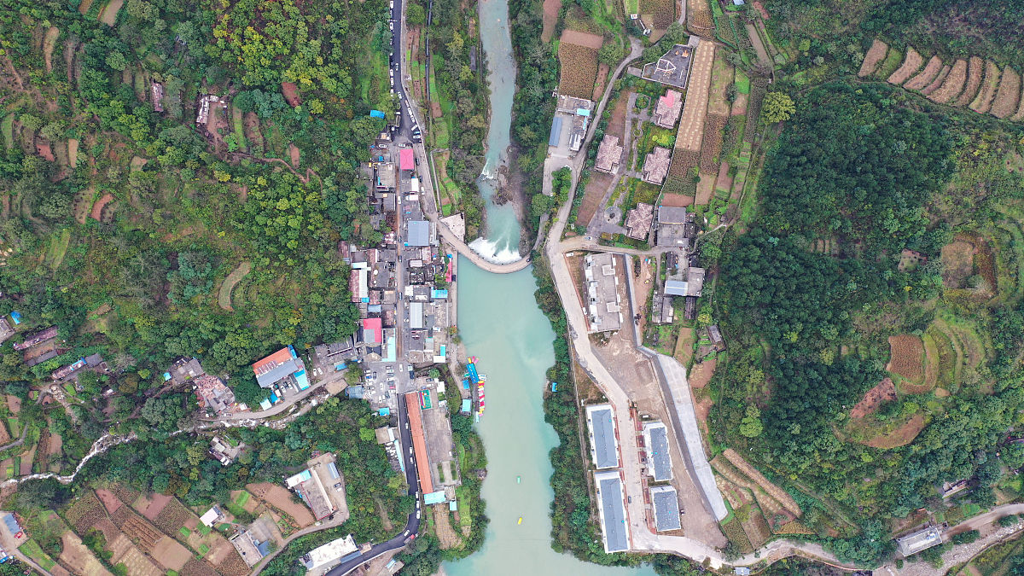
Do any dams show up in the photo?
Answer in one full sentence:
Yes, the frame does contain a dam.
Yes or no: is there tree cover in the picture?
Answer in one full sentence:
Yes, the picture does contain tree cover.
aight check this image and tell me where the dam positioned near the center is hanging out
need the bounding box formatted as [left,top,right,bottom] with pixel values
[438,220,533,274]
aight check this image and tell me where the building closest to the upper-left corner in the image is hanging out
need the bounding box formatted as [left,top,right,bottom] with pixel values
[151,83,169,115]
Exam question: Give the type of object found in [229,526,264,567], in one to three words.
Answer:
house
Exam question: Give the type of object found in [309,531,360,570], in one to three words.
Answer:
building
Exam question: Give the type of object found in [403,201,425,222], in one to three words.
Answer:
house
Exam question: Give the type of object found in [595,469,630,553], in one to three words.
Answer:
building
